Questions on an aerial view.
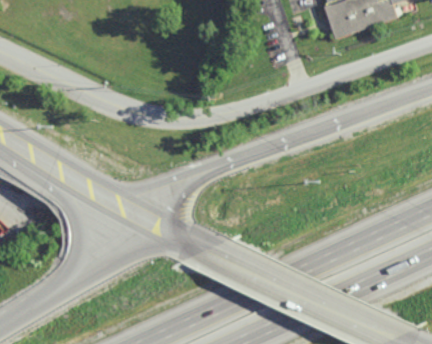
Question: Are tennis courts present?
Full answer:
No, this view has no tennis court in it.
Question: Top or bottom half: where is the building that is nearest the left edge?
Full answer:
You can find the building that is nearest the left edge in the top half.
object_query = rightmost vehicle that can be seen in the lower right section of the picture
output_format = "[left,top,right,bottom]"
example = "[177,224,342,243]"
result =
[385,256,421,276]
